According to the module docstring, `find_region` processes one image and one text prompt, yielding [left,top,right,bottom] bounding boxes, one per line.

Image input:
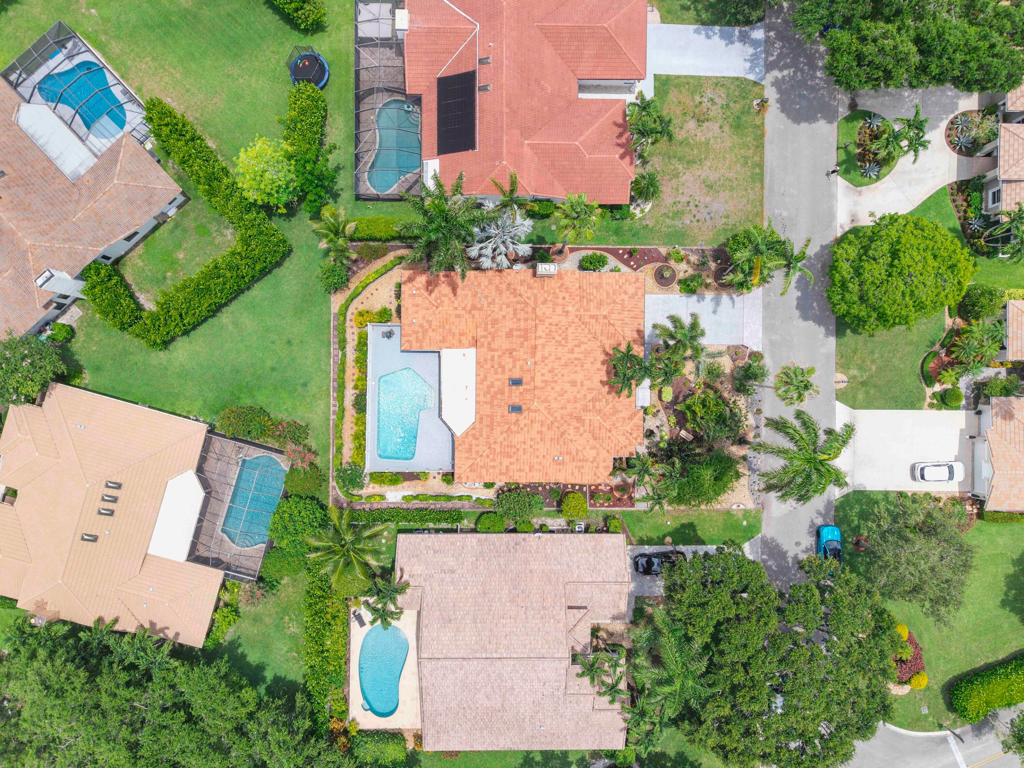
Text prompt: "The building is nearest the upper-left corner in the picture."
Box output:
[0,73,185,364]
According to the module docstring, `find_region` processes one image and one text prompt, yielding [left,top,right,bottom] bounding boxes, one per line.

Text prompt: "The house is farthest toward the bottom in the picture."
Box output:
[398,532,632,752]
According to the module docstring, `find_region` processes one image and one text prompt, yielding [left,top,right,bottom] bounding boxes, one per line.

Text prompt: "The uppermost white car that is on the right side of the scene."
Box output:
[909,460,964,485]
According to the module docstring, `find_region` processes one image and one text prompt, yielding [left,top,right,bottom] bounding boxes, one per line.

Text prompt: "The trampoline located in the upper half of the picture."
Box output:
[285,46,331,91]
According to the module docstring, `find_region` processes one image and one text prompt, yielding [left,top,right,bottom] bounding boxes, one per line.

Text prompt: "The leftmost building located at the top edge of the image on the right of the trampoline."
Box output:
[395,0,649,206]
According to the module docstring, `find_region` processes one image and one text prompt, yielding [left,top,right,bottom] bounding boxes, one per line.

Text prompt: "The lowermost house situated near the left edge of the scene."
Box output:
[0,384,230,649]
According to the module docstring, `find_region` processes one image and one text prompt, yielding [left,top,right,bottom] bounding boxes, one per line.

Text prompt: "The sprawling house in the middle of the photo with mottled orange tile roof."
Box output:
[400,263,646,484]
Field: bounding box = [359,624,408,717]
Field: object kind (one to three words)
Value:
swimming pool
